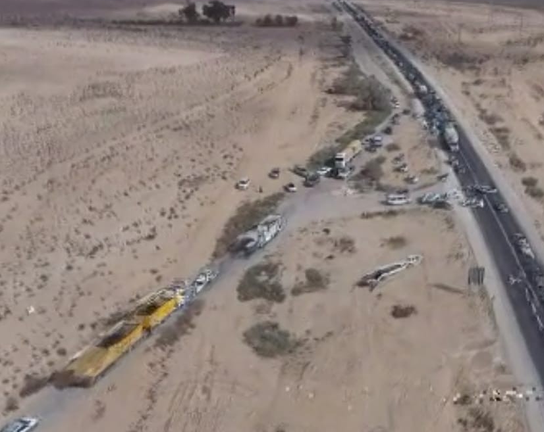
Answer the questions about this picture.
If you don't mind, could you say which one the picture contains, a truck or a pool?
truck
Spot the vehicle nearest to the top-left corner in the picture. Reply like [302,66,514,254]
[235,175,252,189]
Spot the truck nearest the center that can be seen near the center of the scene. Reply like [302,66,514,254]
[247,210,287,242]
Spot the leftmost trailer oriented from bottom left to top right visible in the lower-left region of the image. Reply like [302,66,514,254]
[60,316,153,384]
